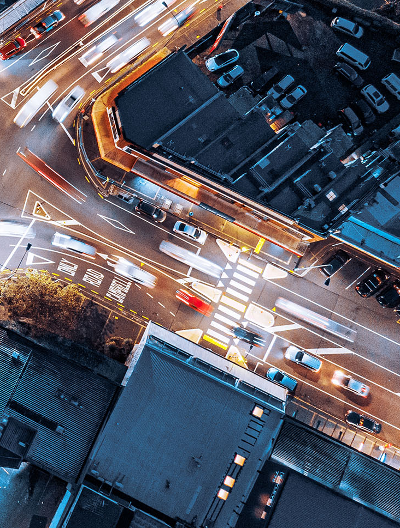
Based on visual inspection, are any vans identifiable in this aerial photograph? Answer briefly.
Yes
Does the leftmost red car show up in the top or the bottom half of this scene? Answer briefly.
top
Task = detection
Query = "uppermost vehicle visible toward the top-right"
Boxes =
[331,17,362,40]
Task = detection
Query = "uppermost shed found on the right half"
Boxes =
[209,0,304,56]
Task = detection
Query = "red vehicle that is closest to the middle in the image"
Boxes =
[178,291,209,313]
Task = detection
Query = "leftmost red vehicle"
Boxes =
[0,36,28,63]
